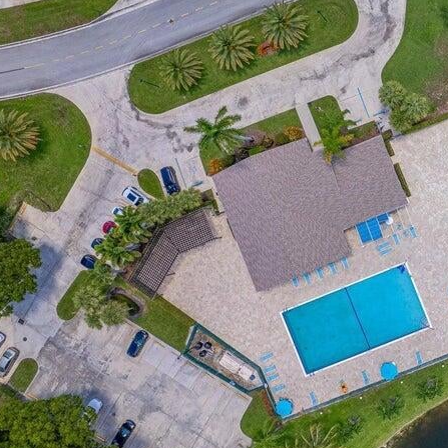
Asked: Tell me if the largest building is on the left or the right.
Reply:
right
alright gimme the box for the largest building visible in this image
[213,134,409,291]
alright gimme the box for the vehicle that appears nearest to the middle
[157,163,178,193]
